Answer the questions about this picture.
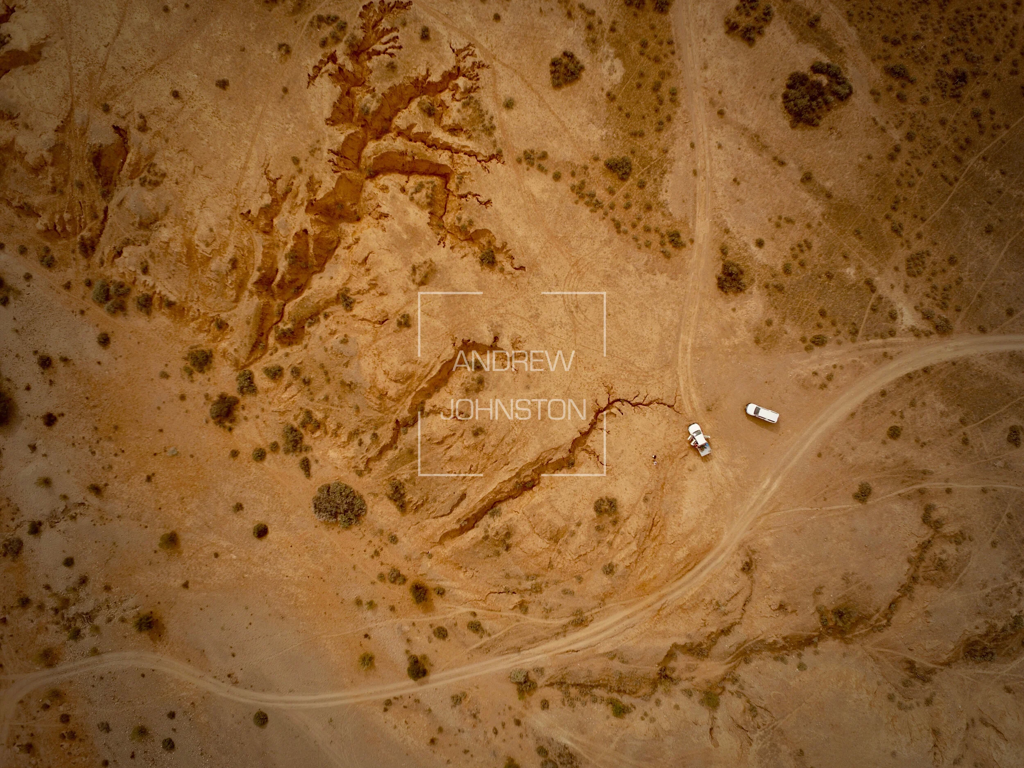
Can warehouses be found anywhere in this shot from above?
No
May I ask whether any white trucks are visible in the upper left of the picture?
No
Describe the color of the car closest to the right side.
white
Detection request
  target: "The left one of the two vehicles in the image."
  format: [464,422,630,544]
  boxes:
[687,424,714,458]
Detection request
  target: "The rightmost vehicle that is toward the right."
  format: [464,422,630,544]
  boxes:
[745,404,781,424]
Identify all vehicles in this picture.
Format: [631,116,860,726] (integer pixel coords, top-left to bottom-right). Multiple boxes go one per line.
[745,404,781,424]
[687,424,714,458]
